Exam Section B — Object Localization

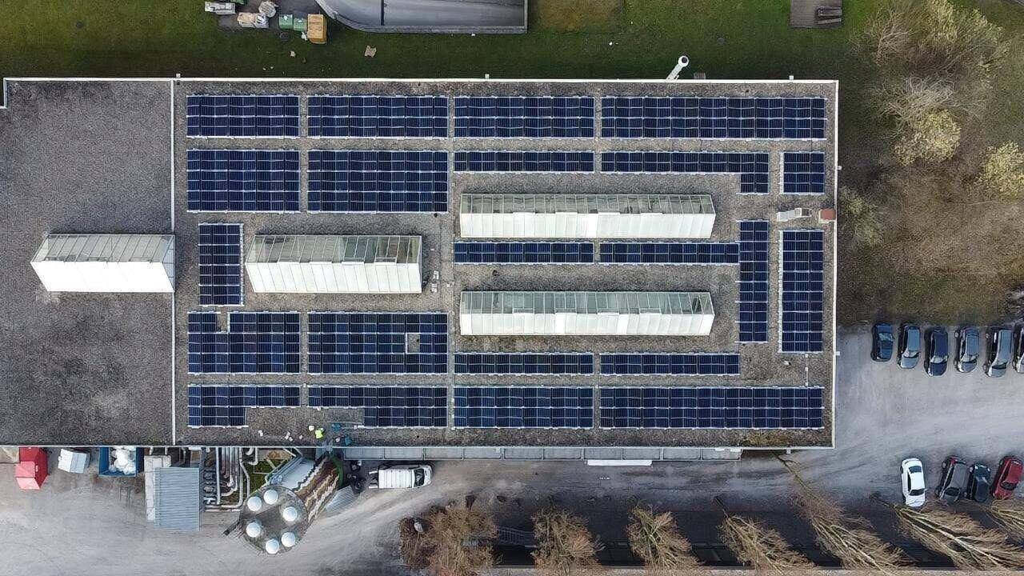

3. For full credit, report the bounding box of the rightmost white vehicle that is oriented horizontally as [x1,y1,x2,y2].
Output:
[368,464,432,490]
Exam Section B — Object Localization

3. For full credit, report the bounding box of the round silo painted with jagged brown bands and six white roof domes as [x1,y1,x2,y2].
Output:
[221,446,348,554]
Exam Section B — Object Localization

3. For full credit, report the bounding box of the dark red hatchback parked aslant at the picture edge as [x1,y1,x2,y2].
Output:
[990,455,1020,499]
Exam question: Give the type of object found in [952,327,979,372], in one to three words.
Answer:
car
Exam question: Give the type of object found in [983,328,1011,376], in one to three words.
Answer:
car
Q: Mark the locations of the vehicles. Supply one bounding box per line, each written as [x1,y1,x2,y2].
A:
[1011,327,1024,371]
[898,458,926,505]
[896,324,922,368]
[368,464,432,490]
[923,329,950,375]
[990,455,1020,499]
[871,324,895,361]
[964,462,990,502]
[952,327,979,372]
[935,455,967,502]
[983,328,1011,376]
